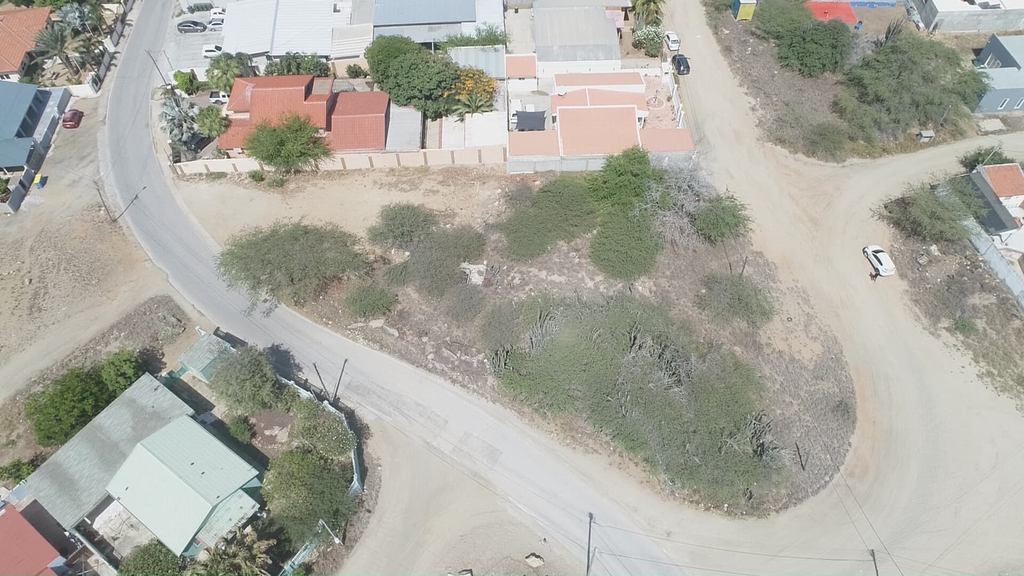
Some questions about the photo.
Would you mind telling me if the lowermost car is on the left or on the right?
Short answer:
right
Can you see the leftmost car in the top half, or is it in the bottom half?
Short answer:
top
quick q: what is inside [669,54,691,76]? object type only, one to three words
car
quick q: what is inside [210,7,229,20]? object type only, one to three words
vehicle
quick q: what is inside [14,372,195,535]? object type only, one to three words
shed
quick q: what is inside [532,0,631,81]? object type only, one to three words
house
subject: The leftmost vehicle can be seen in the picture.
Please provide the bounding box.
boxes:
[60,109,87,130]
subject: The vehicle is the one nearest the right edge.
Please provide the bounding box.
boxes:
[862,247,895,276]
